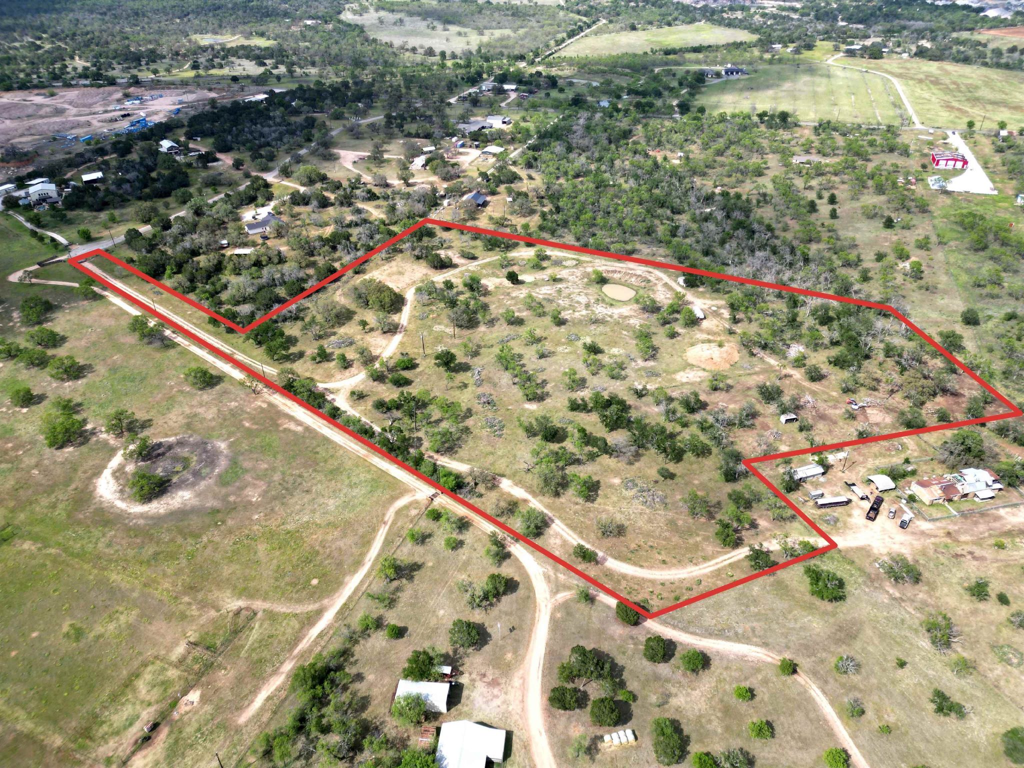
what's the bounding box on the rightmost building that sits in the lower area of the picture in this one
[904,449,995,506]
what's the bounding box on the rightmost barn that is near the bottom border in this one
[434,720,506,768]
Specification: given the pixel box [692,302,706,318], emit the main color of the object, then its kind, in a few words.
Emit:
white vehicle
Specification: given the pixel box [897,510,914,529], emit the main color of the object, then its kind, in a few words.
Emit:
white vehicle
